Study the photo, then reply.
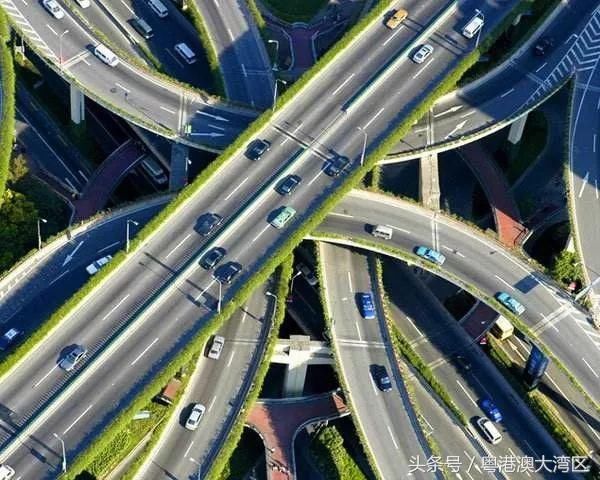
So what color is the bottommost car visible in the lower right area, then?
white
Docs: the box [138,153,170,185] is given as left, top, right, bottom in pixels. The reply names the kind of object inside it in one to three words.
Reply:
vehicle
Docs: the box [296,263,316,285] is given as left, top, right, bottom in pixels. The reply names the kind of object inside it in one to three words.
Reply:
car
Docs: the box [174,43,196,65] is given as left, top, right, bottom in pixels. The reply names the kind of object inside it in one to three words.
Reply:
vehicle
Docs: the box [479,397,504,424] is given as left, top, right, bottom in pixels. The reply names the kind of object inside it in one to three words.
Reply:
car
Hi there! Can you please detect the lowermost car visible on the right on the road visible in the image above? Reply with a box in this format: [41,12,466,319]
[478,417,503,445]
